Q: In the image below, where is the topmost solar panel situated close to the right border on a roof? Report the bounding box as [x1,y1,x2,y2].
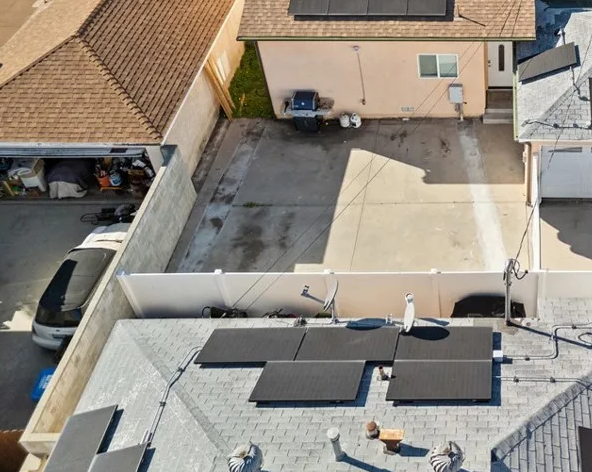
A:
[519,41,578,82]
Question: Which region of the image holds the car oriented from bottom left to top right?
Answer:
left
